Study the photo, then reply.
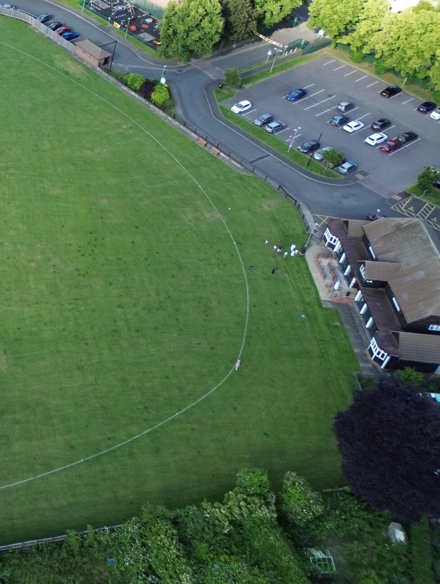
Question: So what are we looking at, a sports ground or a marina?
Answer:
sports ground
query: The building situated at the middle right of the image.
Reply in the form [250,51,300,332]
[329,219,440,378]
